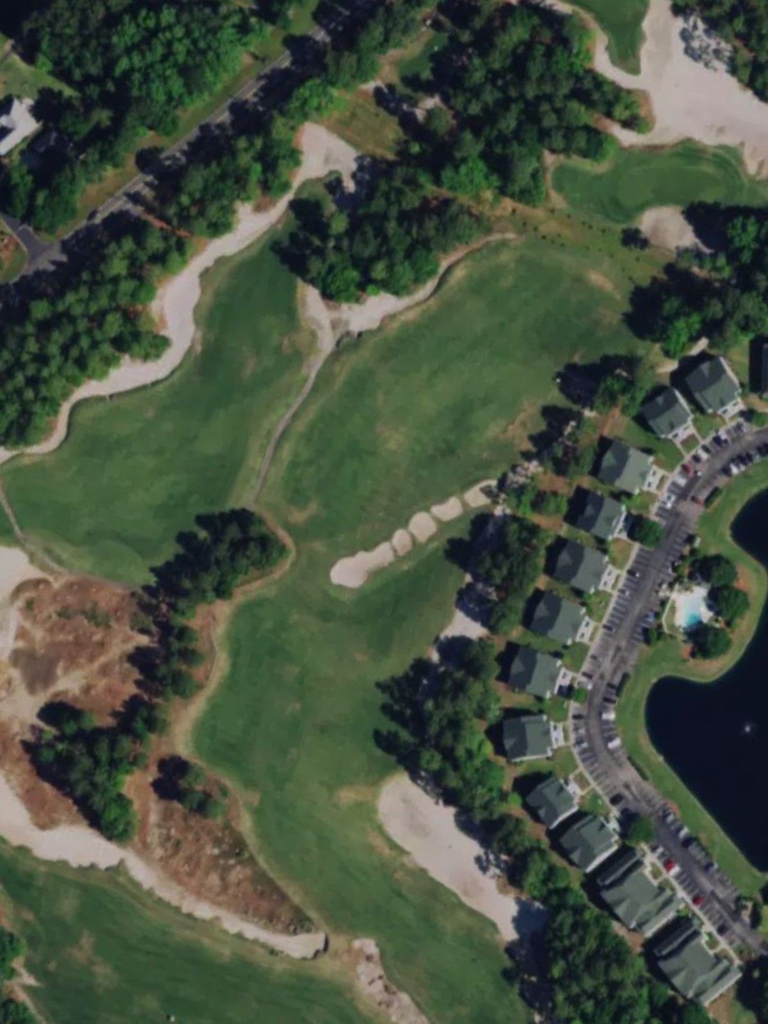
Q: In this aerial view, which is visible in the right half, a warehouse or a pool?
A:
pool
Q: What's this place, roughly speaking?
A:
golf course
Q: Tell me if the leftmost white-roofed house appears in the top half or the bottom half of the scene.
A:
top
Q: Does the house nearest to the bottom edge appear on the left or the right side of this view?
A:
right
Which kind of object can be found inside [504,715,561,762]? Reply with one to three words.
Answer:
house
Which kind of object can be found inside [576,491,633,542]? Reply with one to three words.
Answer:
house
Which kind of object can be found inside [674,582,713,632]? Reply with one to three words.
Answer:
swimming pool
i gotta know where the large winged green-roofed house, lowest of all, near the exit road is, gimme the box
[661,922,742,1006]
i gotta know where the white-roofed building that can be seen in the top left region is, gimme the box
[0,98,40,158]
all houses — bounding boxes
[661,922,742,1006]
[686,358,744,416]
[504,715,561,762]
[576,491,633,542]
[0,98,40,158]
[563,815,623,872]
[531,592,592,645]
[509,647,571,699]
[598,440,660,497]
[602,853,683,937]
[555,542,616,595]
[643,389,698,442]
[527,775,583,828]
